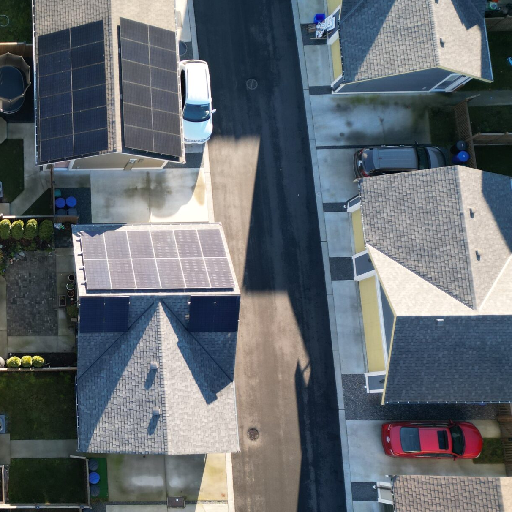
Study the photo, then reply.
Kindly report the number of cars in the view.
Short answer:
3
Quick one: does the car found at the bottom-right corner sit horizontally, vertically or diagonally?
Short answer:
horizontally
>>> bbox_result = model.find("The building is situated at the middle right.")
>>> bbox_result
[353,166,512,407]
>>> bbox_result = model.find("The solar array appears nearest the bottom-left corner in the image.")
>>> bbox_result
[79,297,131,333]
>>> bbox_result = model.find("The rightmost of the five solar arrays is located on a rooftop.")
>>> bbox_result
[188,296,241,331]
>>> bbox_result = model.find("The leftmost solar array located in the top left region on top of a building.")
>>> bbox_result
[38,20,108,163]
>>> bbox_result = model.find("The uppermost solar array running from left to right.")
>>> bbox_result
[73,229,234,289]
